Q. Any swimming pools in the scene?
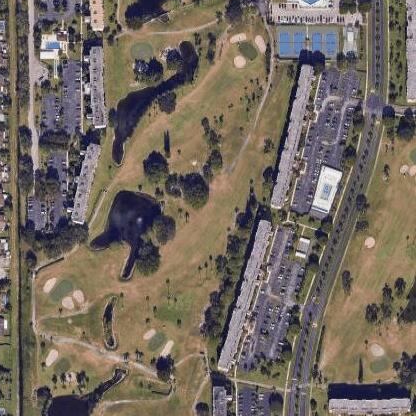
Yes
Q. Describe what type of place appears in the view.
golf course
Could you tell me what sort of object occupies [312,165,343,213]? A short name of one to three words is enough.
swimming pool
